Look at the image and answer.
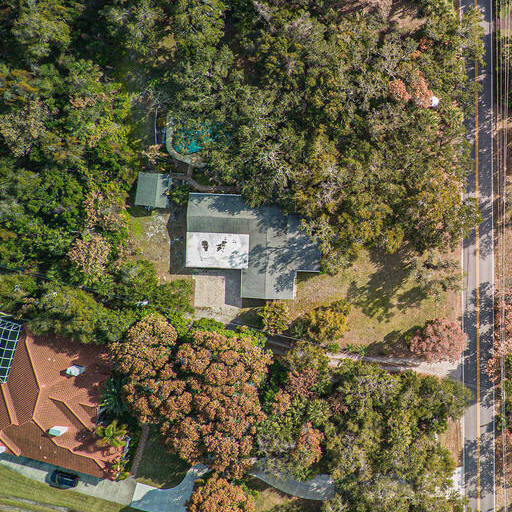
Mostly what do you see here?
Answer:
trees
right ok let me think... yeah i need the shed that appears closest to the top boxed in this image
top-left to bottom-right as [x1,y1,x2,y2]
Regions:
[132,172,170,208]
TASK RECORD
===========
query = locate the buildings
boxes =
[185,192,321,300]
[132,172,170,208]
[0,327,120,481]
